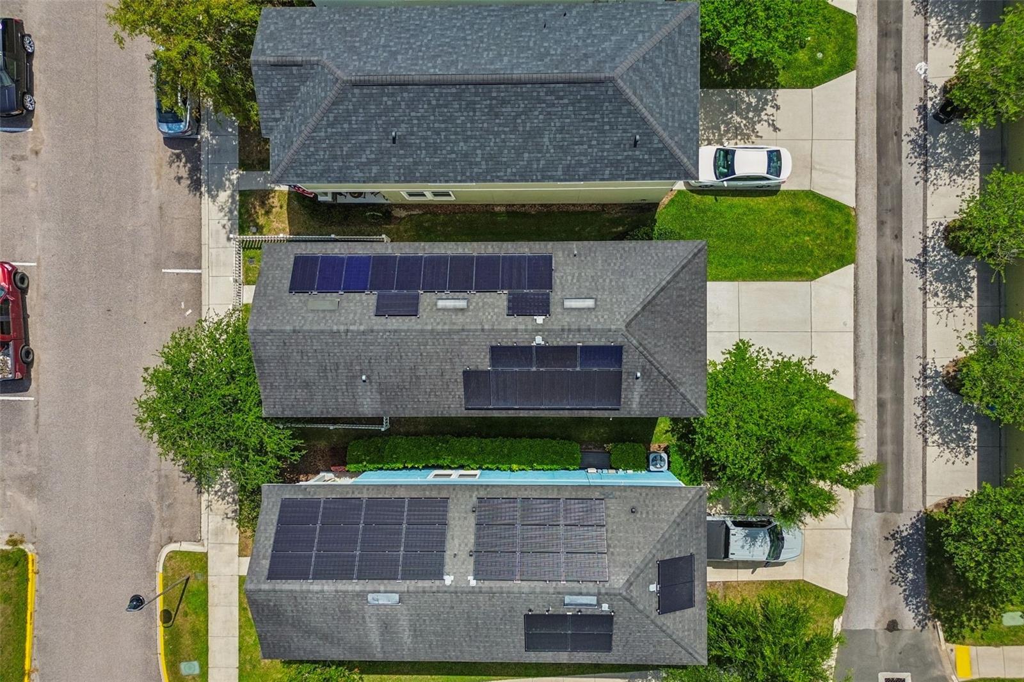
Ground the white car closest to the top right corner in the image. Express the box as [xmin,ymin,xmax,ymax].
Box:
[691,141,791,189]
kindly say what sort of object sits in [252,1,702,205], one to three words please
house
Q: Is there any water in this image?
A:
No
